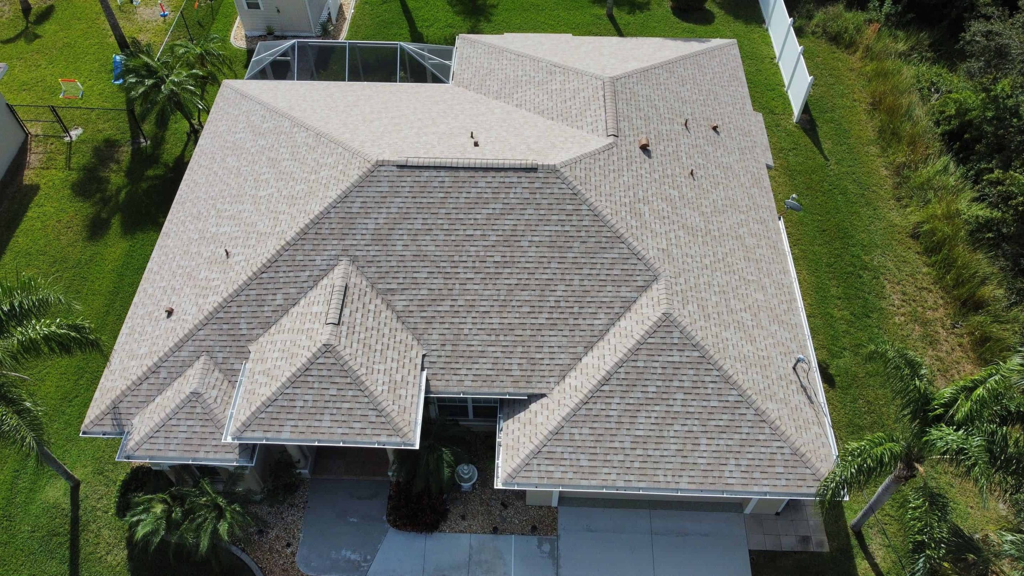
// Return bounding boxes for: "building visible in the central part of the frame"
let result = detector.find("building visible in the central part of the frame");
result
[79,34,851,530]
